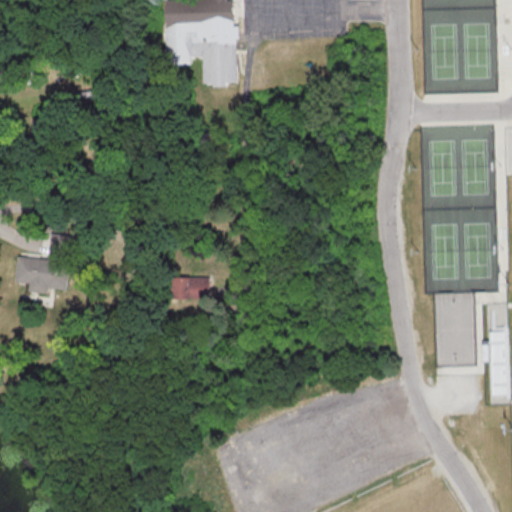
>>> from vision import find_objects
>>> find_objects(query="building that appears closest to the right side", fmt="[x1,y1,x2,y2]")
[482,310,510,404]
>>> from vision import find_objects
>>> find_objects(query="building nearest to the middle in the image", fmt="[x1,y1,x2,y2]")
[172,275,216,300]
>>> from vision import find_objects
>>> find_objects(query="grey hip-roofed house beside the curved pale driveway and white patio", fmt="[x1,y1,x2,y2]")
[16,256,69,295]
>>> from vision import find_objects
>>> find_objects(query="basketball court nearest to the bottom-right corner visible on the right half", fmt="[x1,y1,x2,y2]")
[435,292,476,366]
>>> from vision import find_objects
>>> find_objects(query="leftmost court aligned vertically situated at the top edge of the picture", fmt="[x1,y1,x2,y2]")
[422,8,462,93]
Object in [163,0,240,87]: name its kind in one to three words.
building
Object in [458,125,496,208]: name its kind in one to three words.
tennis court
